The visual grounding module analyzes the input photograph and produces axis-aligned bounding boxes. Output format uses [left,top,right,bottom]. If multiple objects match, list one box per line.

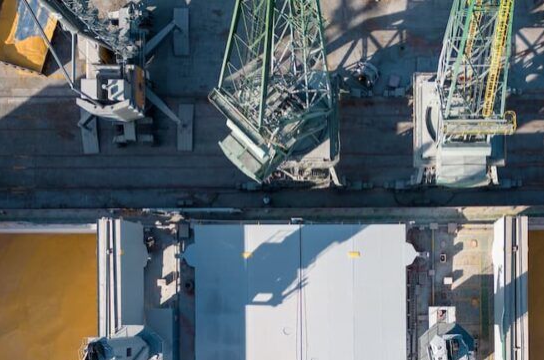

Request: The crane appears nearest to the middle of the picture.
[197,0,362,189]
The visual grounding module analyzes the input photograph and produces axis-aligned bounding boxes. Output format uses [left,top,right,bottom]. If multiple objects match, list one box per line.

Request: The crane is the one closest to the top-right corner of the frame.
[390,0,524,192]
